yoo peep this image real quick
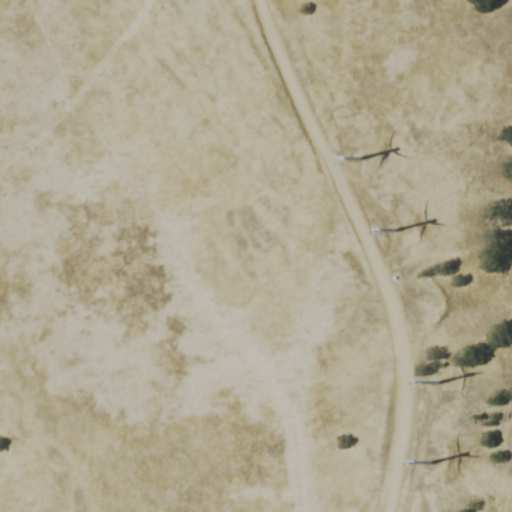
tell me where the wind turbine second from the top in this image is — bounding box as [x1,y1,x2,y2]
[367,210,399,244]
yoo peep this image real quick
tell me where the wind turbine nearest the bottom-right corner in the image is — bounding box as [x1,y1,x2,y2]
[404,444,436,478]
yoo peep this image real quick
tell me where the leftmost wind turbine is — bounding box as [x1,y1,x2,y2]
[332,138,364,170]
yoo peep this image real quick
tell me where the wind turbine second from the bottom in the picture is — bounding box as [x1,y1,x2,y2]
[409,365,442,400]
